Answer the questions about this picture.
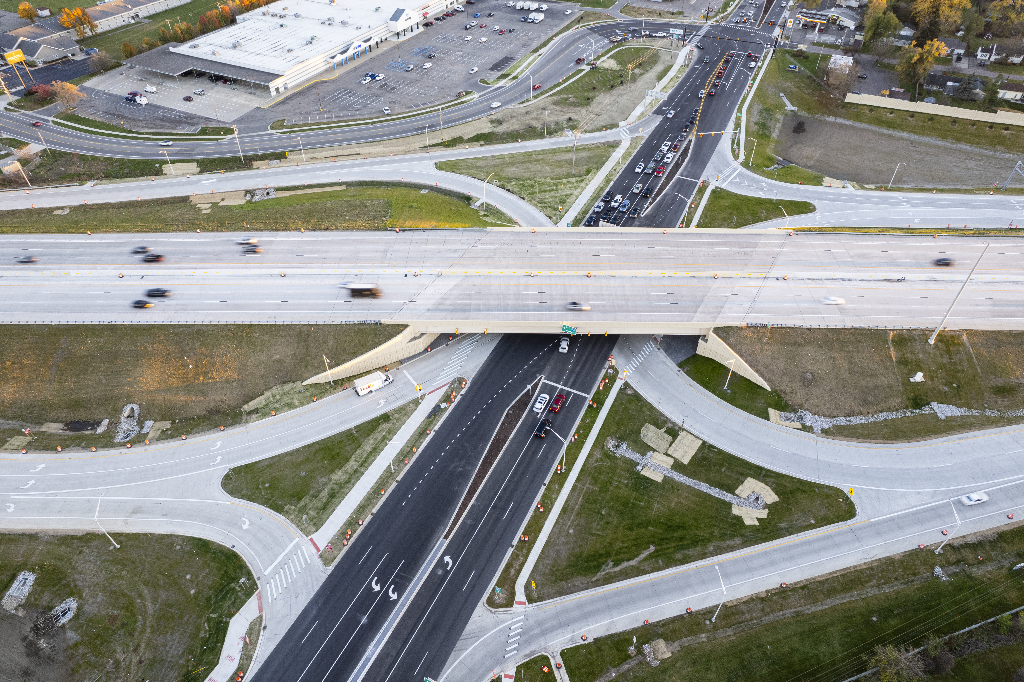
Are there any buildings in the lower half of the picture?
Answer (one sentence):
No, I can find no building in the lower half of the picture.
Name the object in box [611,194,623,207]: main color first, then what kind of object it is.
white vehicle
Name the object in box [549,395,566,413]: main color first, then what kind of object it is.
red car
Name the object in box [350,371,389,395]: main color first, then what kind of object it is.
white truck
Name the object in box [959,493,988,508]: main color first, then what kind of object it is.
white car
